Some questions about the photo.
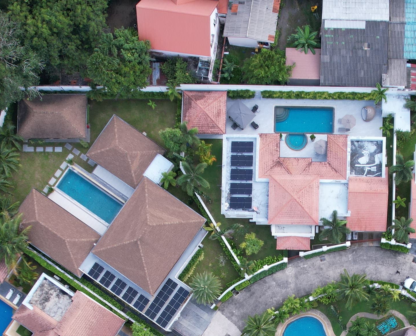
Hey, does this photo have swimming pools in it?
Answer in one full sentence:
Yes, the image includes a swimming pool.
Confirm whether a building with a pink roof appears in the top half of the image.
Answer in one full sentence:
Yes, a building with a pink roof is visible in the top half of the image.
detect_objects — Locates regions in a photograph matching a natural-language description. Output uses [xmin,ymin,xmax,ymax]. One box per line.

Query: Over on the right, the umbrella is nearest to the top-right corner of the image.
[342,114,357,129]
